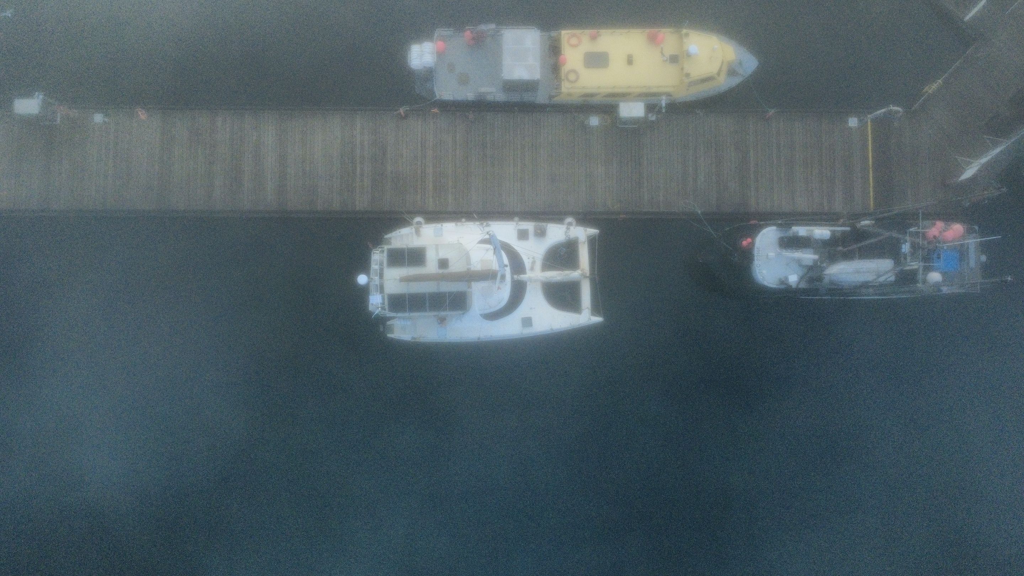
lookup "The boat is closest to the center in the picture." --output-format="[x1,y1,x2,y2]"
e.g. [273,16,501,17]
[357,221,603,342]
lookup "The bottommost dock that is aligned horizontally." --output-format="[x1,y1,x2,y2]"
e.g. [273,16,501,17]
[0,105,967,222]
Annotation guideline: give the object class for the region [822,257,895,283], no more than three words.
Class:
boat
